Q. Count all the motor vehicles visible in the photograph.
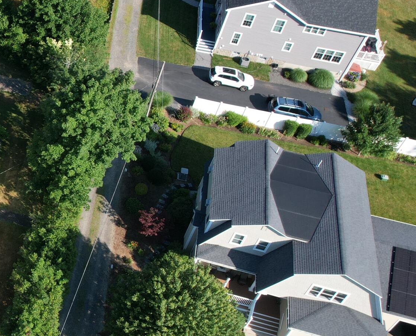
2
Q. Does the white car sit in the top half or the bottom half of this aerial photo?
top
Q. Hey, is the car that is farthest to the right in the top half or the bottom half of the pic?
top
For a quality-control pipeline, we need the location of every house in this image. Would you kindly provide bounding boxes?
[189,0,390,78]
[176,139,416,336]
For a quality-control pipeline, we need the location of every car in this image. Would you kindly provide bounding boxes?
[269,91,326,121]
[213,61,261,89]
